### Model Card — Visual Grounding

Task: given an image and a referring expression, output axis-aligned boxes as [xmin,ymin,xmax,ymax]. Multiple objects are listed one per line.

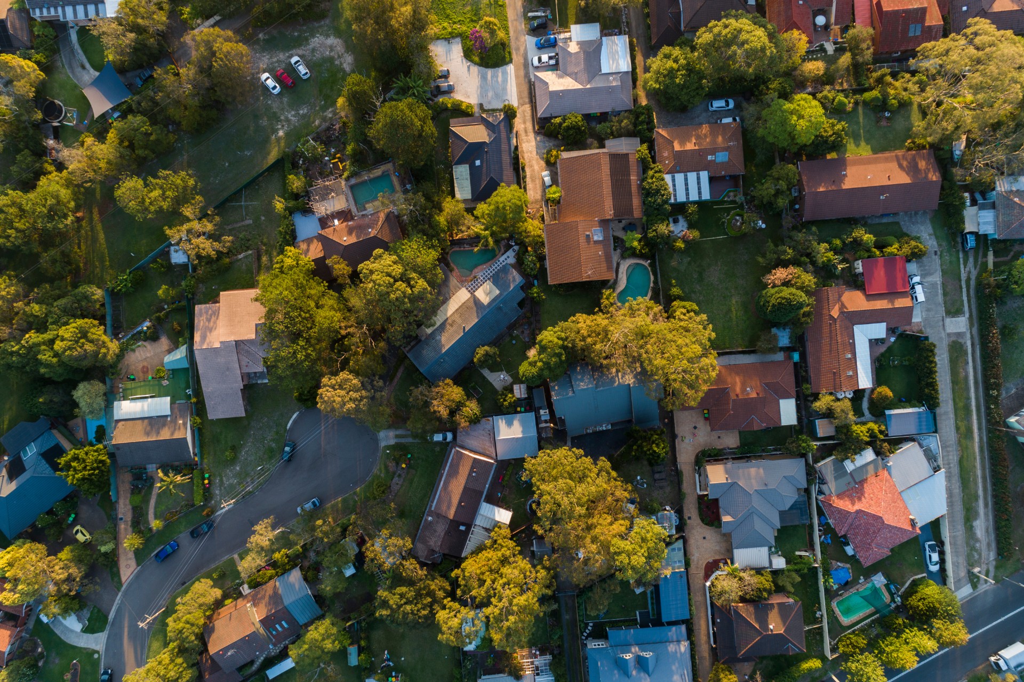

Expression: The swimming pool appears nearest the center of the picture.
[447,246,503,278]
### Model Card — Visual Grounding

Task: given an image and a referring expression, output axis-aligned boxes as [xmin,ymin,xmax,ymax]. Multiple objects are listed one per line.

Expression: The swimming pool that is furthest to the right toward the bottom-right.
[833,579,890,625]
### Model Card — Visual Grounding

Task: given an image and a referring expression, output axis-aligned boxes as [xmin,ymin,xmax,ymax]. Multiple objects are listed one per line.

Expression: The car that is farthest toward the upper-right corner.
[962,231,978,250]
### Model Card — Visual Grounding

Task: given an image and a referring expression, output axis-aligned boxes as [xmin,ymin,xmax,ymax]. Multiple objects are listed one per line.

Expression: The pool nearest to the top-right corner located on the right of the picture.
[616,260,653,306]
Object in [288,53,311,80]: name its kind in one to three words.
car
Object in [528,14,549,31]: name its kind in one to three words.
vehicle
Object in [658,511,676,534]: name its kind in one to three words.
shed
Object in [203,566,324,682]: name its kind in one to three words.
house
